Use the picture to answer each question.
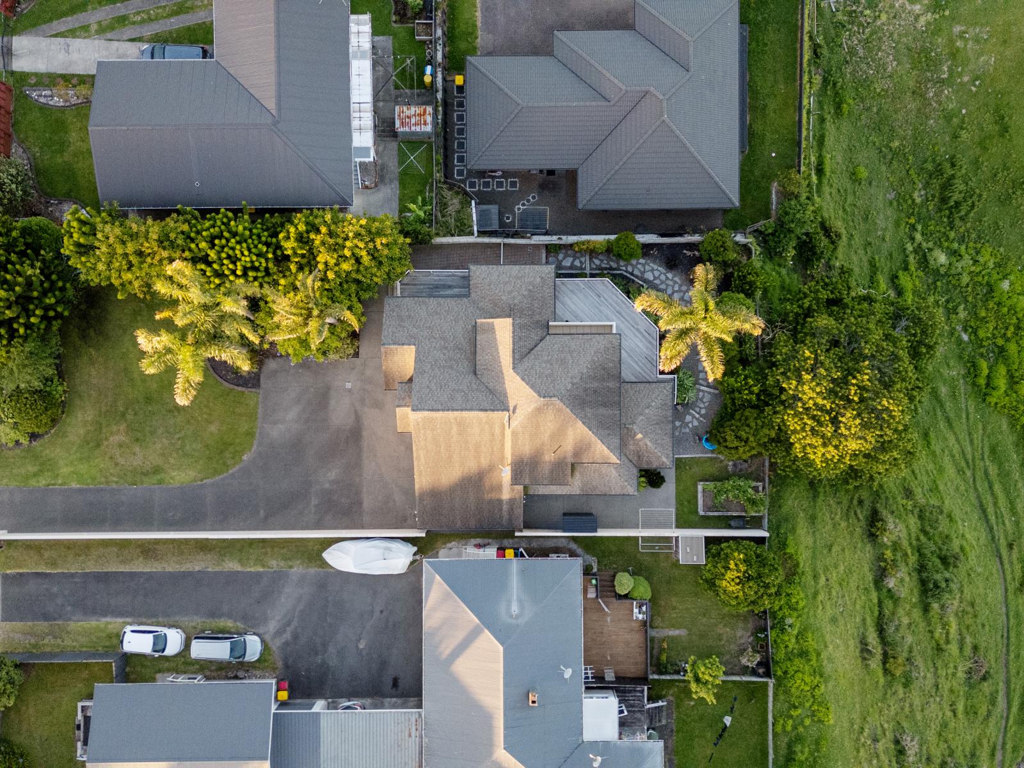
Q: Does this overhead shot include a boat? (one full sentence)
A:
Yes, the picture does show a boat.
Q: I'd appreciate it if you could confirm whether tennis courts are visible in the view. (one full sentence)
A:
No, there's no tennis court here.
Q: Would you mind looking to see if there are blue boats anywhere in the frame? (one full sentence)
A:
No, no blue boat can be seen from above.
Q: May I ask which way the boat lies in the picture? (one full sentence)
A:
The boat has been laid out from left to right relative to the frame.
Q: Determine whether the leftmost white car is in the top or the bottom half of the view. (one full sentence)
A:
It is in the bottom half that the leftmost white car appears.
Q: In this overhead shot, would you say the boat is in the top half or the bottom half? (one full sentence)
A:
Seen from above, the boat lies in the bottom half of the view.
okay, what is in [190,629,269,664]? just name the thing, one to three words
van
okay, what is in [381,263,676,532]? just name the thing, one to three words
house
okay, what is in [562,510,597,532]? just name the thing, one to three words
shed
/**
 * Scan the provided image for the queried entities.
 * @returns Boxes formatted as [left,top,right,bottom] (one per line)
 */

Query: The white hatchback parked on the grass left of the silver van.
[117,623,187,660]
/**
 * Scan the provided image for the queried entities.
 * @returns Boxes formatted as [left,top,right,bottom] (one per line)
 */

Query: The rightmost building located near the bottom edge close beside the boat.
[421,554,666,768]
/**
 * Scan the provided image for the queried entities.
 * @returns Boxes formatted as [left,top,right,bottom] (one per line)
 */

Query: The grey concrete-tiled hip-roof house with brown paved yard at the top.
[464,0,741,211]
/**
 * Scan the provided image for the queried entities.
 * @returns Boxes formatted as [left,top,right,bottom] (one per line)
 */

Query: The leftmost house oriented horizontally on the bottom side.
[86,678,277,768]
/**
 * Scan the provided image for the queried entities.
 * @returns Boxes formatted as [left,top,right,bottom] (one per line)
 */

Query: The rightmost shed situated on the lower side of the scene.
[675,535,705,564]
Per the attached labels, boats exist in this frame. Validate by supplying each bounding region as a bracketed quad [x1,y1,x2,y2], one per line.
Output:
[323,537,427,571]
